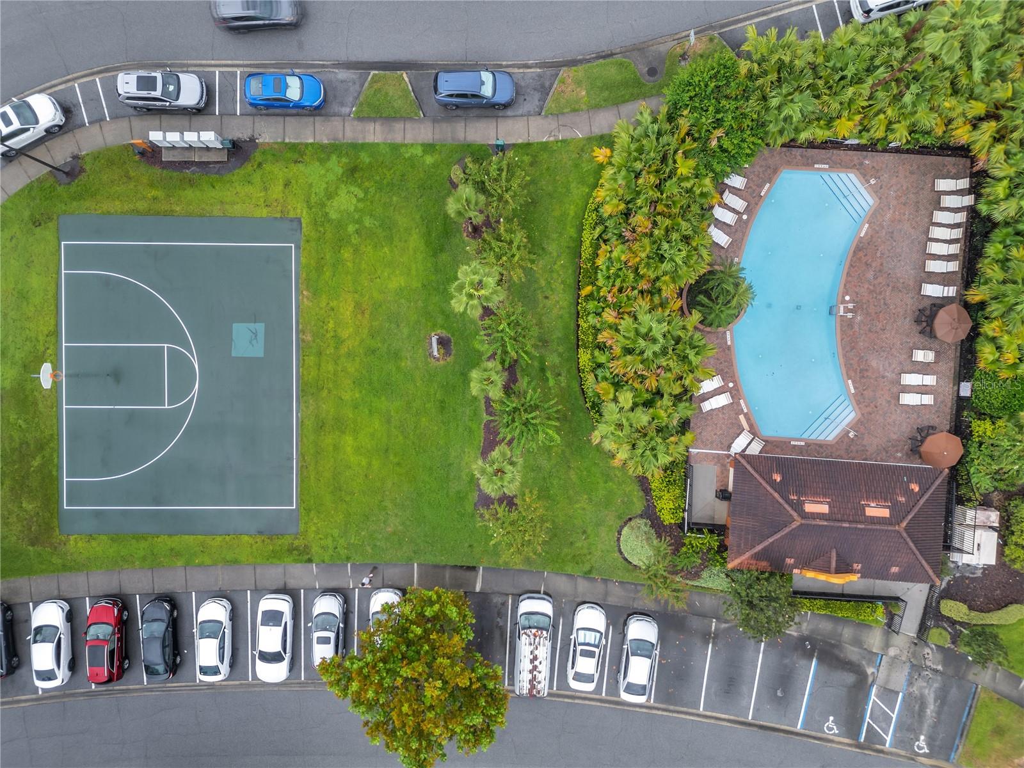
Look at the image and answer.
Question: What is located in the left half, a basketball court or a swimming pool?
basketball court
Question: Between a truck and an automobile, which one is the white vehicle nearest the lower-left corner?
automobile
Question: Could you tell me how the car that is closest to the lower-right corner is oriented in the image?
up and down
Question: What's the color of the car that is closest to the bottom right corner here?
white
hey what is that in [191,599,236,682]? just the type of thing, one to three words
car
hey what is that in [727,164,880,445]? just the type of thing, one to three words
swimming pool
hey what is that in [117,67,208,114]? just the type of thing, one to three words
car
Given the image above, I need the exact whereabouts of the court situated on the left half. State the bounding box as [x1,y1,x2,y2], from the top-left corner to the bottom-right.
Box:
[58,215,301,535]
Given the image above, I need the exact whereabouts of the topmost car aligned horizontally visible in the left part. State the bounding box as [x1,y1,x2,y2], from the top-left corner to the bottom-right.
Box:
[219,0,302,34]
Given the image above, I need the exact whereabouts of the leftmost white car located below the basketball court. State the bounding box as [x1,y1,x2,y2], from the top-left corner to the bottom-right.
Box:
[27,601,77,687]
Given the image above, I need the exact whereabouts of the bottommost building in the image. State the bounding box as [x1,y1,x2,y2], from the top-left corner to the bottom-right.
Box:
[723,453,952,587]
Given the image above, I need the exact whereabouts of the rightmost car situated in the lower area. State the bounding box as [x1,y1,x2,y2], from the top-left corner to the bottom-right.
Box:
[614,615,658,700]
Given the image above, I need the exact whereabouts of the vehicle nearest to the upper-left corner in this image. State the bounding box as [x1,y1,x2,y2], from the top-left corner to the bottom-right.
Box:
[0,101,68,161]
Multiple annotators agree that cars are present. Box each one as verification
[0,600,21,682]
[137,599,183,681]
[0,101,68,161]
[27,601,77,687]
[847,0,922,24]
[253,602,296,686]
[117,67,208,114]
[191,599,236,682]
[243,70,323,113]
[435,66,516,111]
[614,615,658,700]
[219,0,302,34]
[306,595,348,674]
[568,604,608,689]
[82,601,131,685]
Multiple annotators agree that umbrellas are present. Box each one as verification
[911,428,959,467]
[921,302,969,344]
